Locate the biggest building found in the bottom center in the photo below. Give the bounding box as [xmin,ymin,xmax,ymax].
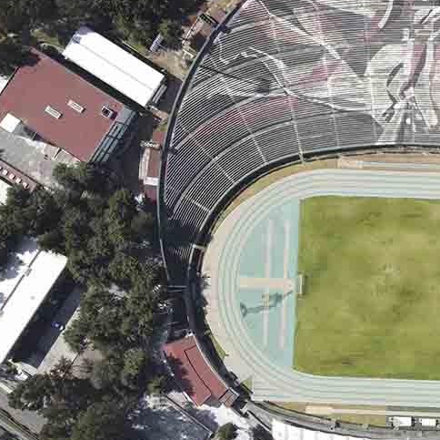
[165,333,232,406]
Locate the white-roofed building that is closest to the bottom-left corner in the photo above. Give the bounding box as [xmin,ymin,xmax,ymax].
[0,233,76,364]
